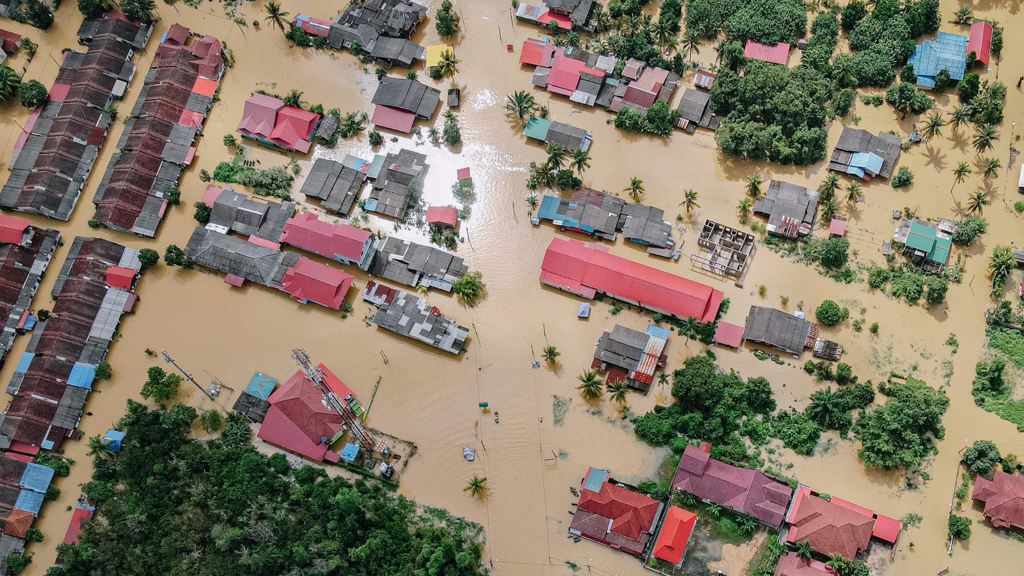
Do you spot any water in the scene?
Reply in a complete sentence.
Yes, there's water in this view.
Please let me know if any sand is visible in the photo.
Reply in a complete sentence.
No, the picture contains no sand.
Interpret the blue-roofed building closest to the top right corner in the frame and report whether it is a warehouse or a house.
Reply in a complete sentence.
I'd say the blue-roofed building closest to the top right corner is a house.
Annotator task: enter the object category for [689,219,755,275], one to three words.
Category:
building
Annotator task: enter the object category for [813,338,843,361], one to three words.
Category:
shed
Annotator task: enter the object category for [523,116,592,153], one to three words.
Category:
house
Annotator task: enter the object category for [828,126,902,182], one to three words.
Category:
house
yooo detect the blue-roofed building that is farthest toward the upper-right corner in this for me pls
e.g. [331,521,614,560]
[909,32,967,89]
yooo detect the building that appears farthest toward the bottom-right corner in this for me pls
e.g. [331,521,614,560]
[971,470,1024,528]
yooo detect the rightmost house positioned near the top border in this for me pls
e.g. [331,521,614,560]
[968,21,993,69]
